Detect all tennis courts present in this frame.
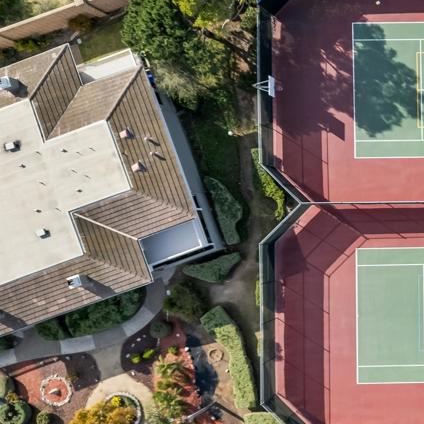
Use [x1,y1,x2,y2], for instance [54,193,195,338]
[270,0,424,208]
[273,207,424,424]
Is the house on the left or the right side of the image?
left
